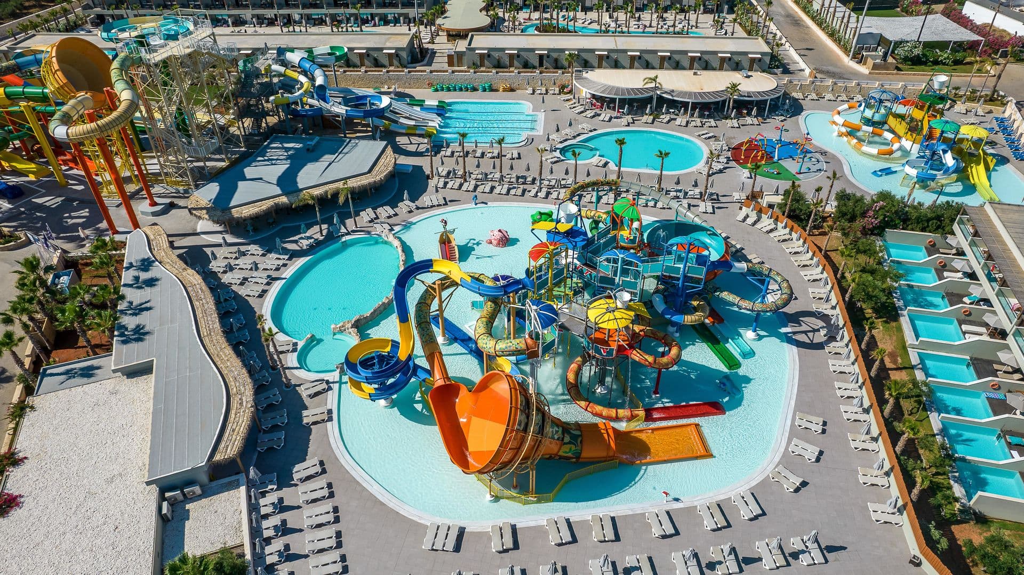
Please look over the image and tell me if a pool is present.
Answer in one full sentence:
Yes, there's a pool here.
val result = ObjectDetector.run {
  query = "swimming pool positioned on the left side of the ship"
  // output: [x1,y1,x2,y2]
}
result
[270,235,393,374]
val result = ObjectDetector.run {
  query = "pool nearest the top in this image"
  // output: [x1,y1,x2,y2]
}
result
[524,23,703,36]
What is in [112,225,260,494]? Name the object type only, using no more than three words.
building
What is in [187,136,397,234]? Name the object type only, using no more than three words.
building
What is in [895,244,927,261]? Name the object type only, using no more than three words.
swimming pool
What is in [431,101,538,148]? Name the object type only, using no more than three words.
swimming pool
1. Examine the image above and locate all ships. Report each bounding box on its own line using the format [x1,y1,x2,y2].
[430,208,461,261]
